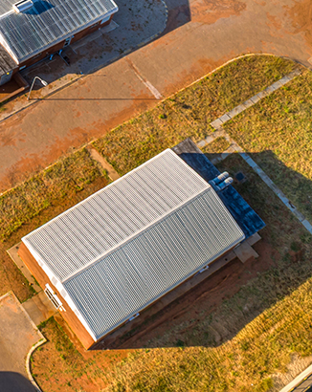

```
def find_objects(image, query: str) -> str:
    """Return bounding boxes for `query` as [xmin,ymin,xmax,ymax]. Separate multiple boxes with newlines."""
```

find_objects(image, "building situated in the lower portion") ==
[19,138,266,346]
